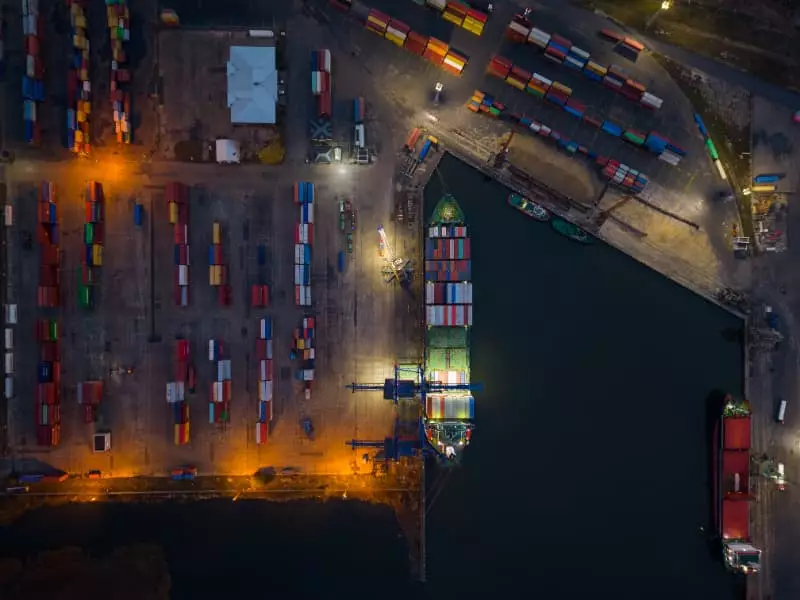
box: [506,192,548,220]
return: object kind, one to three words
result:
boat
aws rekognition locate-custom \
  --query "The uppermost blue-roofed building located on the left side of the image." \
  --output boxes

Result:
[226,46,280,126]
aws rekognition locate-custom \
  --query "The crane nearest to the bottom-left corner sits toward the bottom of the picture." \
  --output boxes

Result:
[344,404,426,473]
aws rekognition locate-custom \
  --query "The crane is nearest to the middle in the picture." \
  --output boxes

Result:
[377,226,413,284]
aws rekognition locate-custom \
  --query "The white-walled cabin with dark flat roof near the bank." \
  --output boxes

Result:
[95,430,113,452]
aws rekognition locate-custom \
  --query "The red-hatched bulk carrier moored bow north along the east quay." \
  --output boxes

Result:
[712,391,762,576]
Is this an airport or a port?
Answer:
port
